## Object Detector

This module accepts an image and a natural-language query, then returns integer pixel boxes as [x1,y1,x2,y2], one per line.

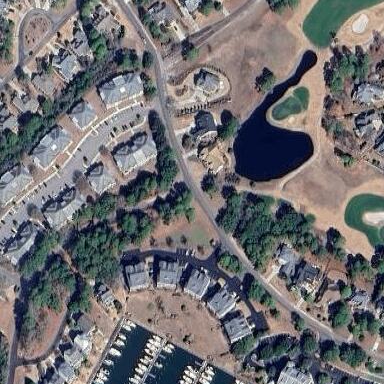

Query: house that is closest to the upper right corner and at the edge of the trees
[353,82,383,104]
